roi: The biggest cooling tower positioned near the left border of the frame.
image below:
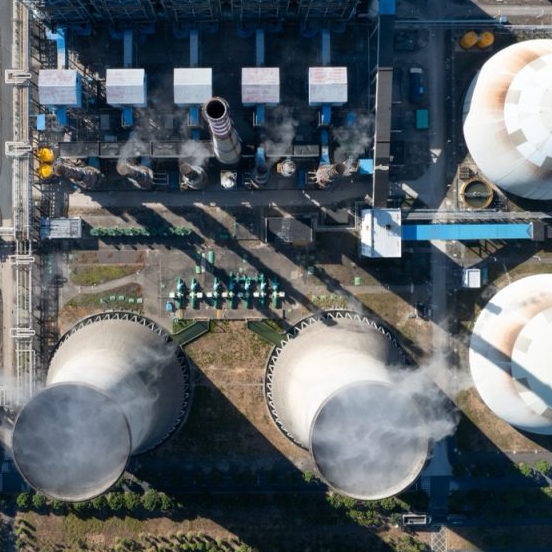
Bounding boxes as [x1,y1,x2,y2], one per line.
[10,311,191,501]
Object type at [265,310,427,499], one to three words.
cooling tower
